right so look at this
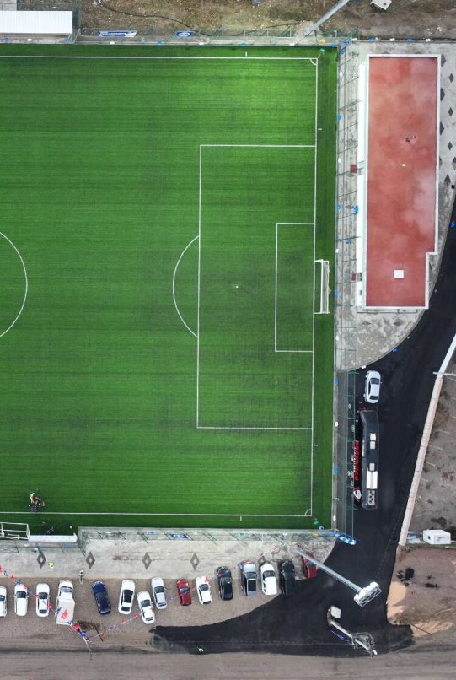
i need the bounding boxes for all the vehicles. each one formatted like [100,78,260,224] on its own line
[57,579,74,627]
[135,590,154,624]
[36,583,51,617]
[118,579,135,615]
[300,552,317,579]
[195,575,211,605]
[176,578,191,606]
[0,585,8,617]
[279,560,298,596]
[216,566,233,600]
[259,561,277,594]
[150,577,166,609]
[91,581,112,615]
[350,410,380,506]
[13,584,30,616]
[363,371,381,403]
[241,561,259,597]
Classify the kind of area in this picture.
sports ground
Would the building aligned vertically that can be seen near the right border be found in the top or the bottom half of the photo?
top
